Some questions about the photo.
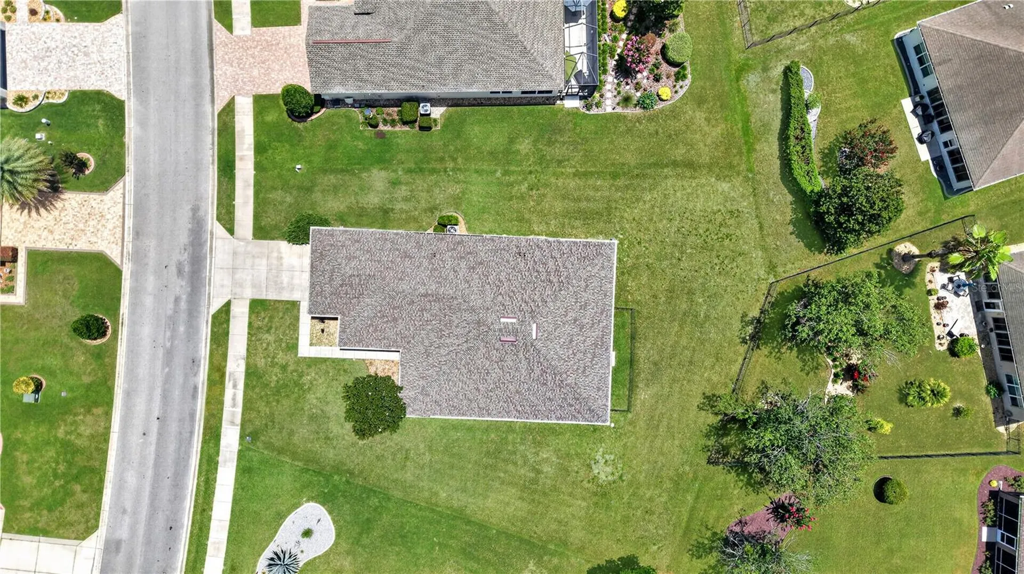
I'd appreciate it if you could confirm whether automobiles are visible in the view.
No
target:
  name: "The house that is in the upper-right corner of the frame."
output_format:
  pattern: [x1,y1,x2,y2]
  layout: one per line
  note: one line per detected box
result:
[901,0,1024,192]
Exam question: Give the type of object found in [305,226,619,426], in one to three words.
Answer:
house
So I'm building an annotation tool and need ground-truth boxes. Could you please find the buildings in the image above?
[901,0,1024,192]
[304,0,575,101]
[305,226,619,426]
[981,255,1024,421]
[994,485,1024,574]
[0,14,8,109]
